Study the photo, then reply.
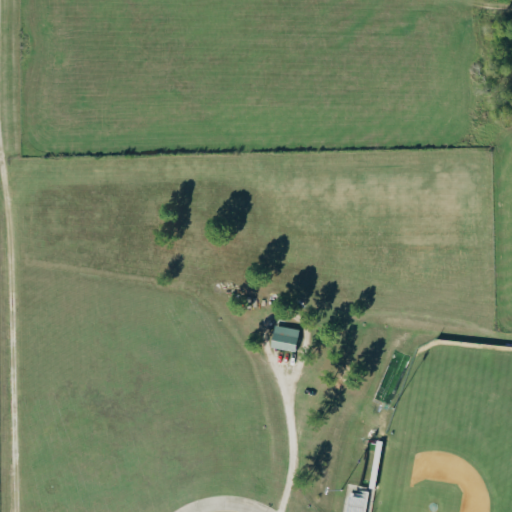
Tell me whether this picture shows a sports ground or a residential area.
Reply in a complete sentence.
The area seen from above is a sports ground.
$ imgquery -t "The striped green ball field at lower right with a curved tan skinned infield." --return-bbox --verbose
[373,338,512,512]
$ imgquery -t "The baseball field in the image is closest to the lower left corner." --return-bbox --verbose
[20,262,277,512]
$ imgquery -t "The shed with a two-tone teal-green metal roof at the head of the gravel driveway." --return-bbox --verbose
[272,326,300,352]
